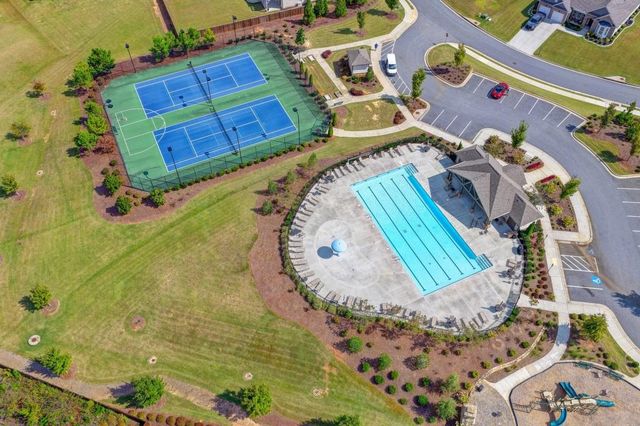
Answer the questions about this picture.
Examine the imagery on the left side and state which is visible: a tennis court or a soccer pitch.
tennis court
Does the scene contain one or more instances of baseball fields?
No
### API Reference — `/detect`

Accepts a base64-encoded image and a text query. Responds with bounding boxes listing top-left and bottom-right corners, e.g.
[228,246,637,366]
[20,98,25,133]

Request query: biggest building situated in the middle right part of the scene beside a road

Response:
[444,143,544,237]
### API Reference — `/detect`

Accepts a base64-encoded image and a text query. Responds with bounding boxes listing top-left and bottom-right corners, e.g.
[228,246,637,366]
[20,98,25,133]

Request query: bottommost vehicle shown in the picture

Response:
[490,82,509,99]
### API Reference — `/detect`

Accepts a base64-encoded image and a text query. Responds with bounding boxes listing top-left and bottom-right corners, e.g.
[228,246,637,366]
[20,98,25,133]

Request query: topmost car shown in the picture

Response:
[528,12,544,28]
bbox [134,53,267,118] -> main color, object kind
blue tennis court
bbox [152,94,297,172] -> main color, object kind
blue tennis court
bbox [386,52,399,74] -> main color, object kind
white vehicle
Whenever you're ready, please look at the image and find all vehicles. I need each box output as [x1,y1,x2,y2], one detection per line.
[490,82,509,99]
[386,52,399,74]
[528,12,544,28]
